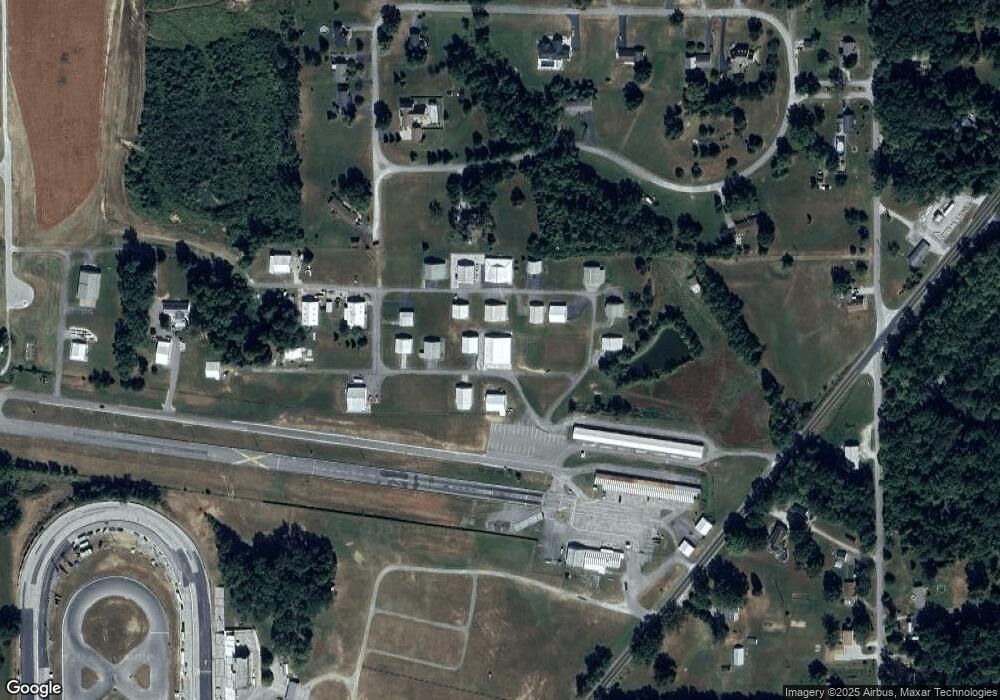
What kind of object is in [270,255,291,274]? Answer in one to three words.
barn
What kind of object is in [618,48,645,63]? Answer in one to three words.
house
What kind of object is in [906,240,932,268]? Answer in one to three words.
shed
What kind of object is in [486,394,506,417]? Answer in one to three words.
hangar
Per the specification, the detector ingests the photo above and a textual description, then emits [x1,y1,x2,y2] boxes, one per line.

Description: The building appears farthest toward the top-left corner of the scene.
[78,269,102,308]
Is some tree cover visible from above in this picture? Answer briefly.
Yes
